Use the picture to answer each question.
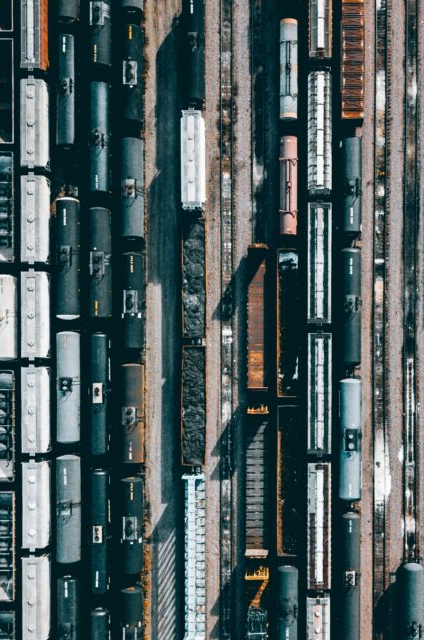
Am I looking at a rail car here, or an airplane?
rail car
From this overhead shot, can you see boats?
Yes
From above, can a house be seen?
No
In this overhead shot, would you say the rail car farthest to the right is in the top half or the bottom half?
bottom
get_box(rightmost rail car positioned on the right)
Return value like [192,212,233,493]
[396,547,423,640]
